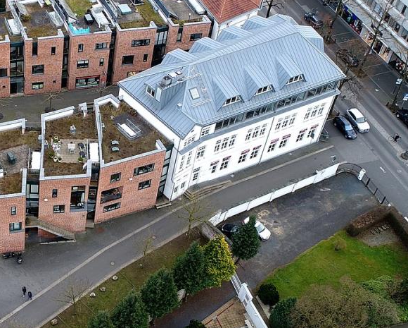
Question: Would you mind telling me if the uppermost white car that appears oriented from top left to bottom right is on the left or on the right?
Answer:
right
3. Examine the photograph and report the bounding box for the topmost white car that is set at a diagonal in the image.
[345,107,373,130]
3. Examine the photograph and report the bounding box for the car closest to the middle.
[216,216,247,236]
